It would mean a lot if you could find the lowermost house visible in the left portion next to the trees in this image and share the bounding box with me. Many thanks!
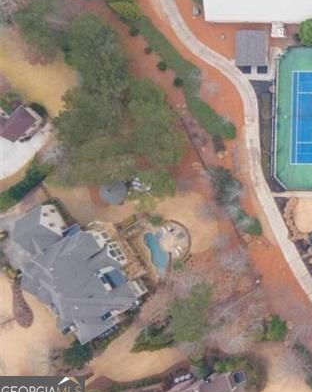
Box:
[11,207,168,342]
